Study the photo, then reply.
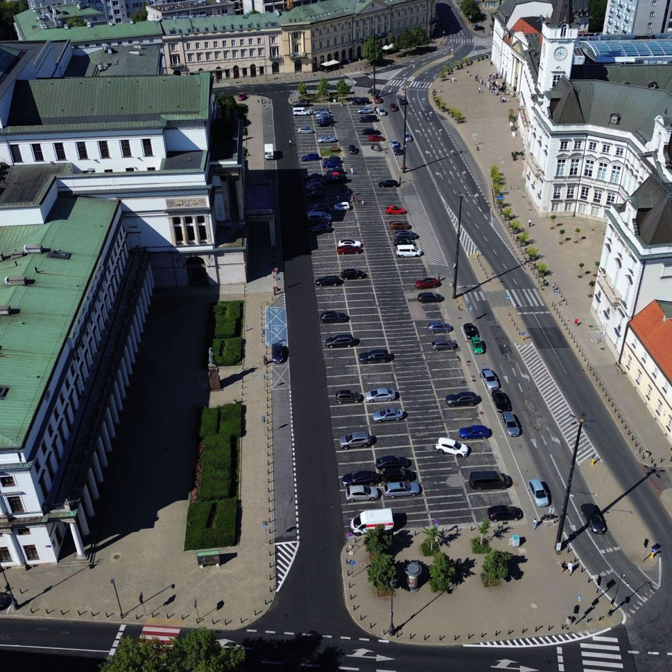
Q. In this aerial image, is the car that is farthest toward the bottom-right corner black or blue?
black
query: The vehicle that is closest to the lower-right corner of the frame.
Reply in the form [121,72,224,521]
[582,502,606,534]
